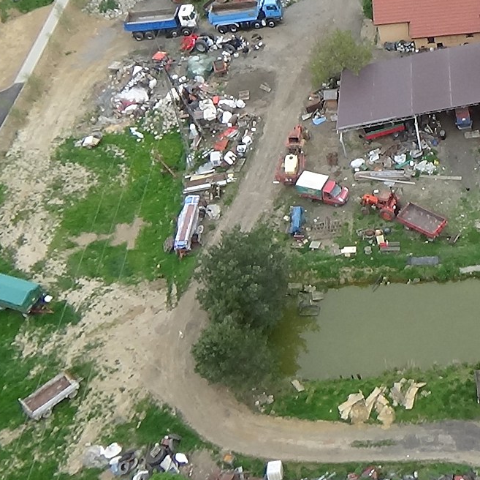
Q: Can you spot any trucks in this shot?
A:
Yes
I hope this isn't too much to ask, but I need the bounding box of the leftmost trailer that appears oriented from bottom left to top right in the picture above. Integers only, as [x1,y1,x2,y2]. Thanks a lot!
[18,369,89,421]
